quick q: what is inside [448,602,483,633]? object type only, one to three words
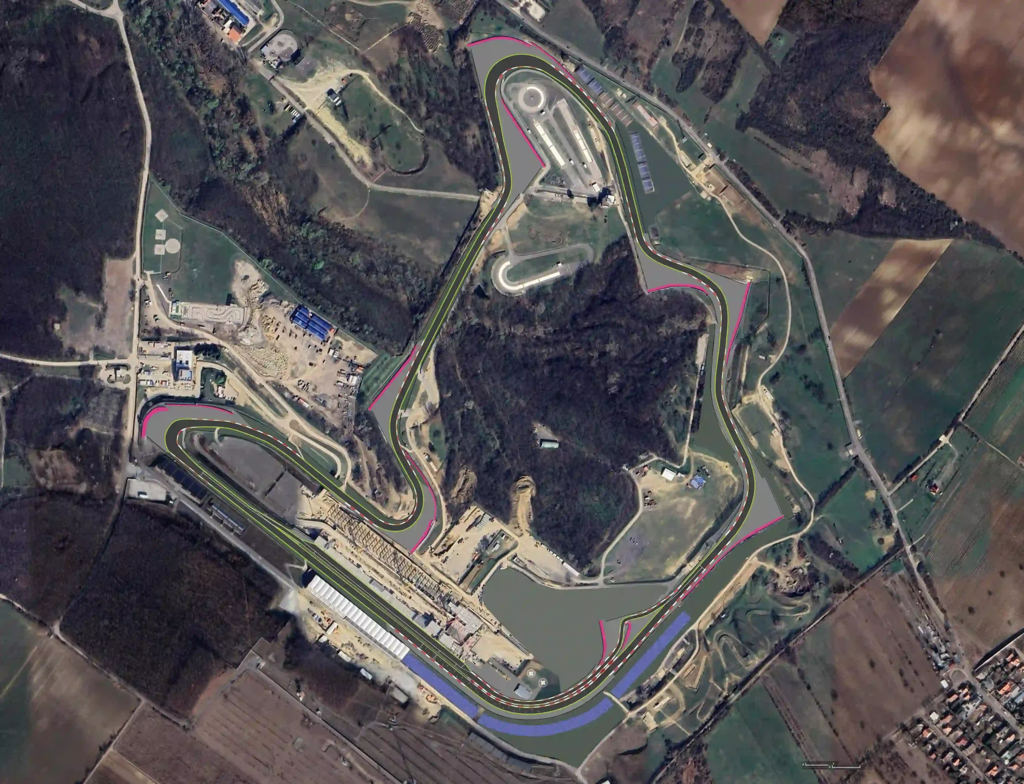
building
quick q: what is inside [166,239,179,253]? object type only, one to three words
helipad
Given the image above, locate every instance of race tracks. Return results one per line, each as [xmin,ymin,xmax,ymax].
[167,55,755,714]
